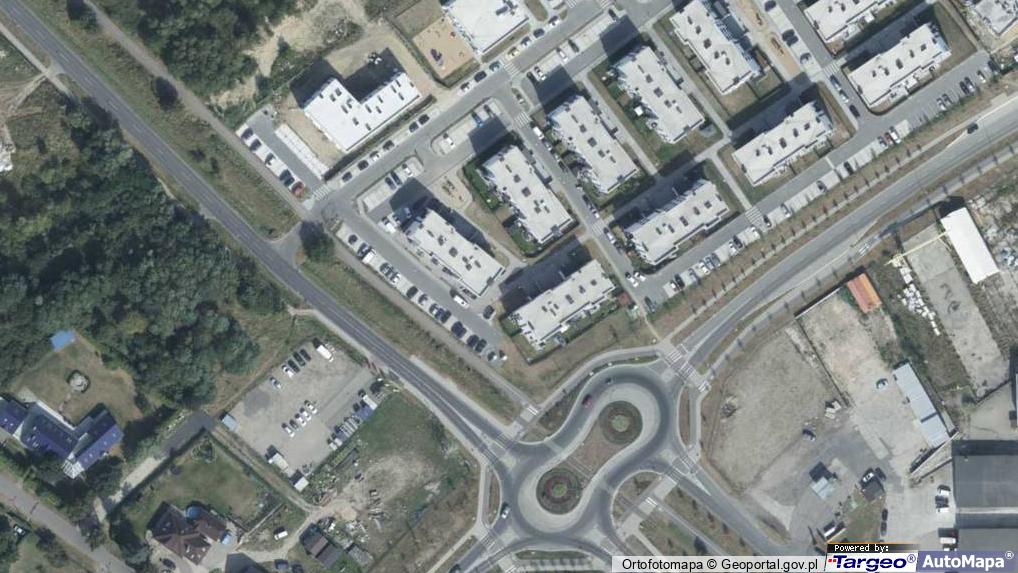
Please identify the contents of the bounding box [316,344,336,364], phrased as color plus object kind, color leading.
white vehicle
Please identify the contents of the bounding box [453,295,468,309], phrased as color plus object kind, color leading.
white vehicle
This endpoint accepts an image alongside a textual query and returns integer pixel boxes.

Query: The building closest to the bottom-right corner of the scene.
[953,440,1018,573]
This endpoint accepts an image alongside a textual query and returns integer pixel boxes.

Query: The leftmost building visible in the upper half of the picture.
[302,70,420,151]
